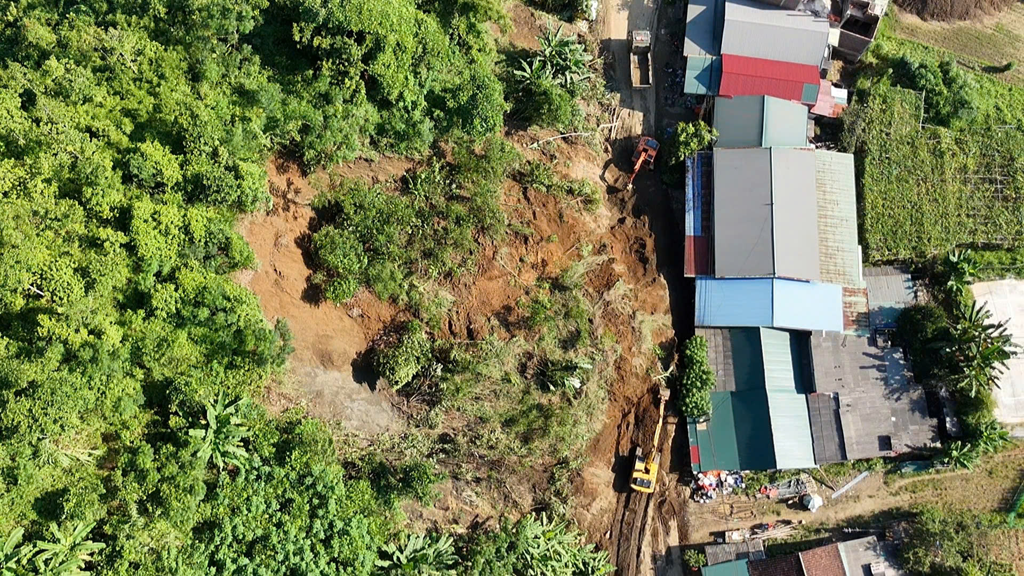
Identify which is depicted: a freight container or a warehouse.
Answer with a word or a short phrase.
warehouse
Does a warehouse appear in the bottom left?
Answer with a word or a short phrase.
No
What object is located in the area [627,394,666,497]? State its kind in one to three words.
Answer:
work vehicle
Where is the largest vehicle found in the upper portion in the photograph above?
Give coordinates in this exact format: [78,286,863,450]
[628,27,653,89]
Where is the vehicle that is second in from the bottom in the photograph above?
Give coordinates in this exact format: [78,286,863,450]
[627,134,661,186]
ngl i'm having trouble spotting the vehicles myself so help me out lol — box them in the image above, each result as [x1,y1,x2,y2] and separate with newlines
[627,394,666,497]
[628,27,653,89]
[627,134,661,186]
